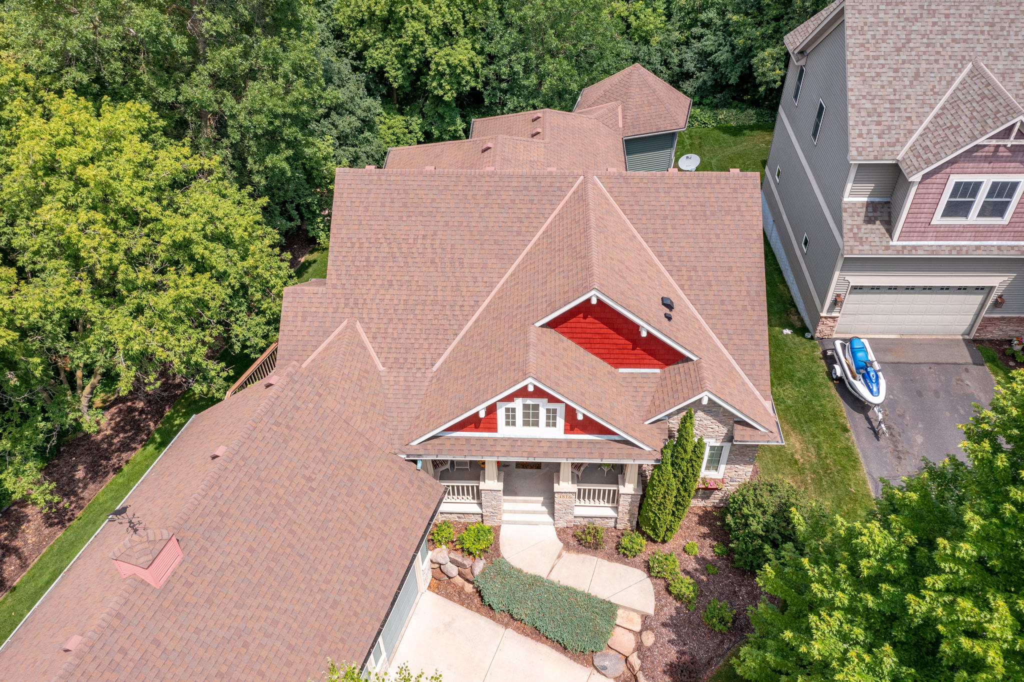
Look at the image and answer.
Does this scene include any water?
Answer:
No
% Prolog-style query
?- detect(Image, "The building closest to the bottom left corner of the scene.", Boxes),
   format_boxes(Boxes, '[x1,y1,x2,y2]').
[0,62,786,682]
